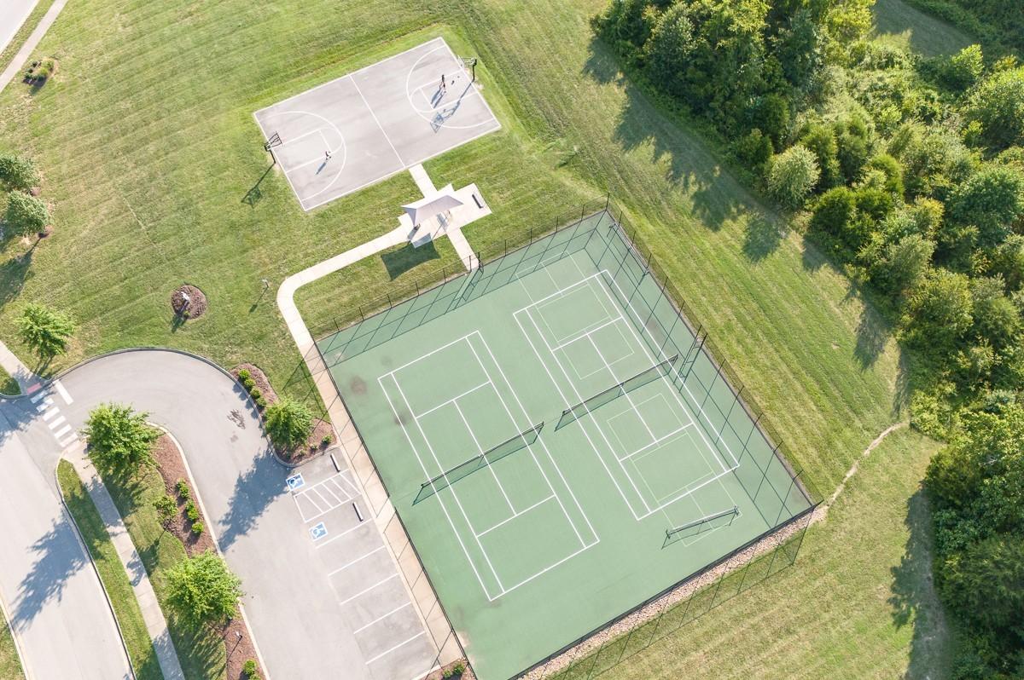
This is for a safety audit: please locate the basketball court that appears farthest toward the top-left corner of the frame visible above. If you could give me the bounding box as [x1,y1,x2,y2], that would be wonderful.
[252,36,503,211]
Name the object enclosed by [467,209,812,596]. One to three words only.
tennis court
